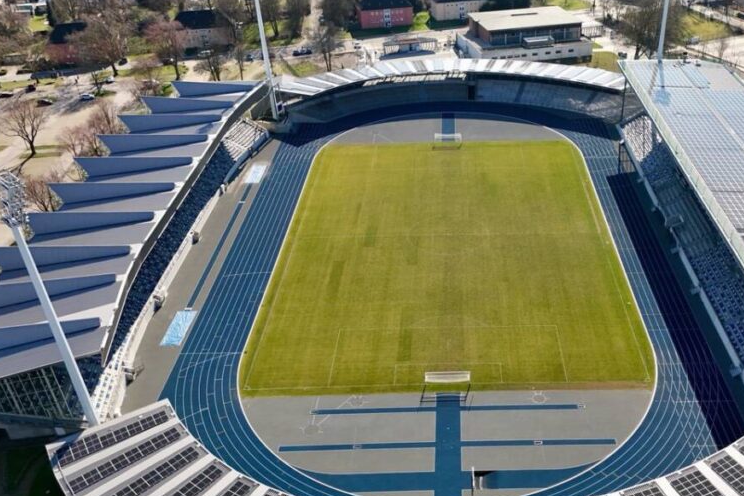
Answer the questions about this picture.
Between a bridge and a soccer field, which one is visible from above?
soccer field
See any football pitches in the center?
Yes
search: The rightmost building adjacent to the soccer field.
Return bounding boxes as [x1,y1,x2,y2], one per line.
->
[458,7,621,63]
